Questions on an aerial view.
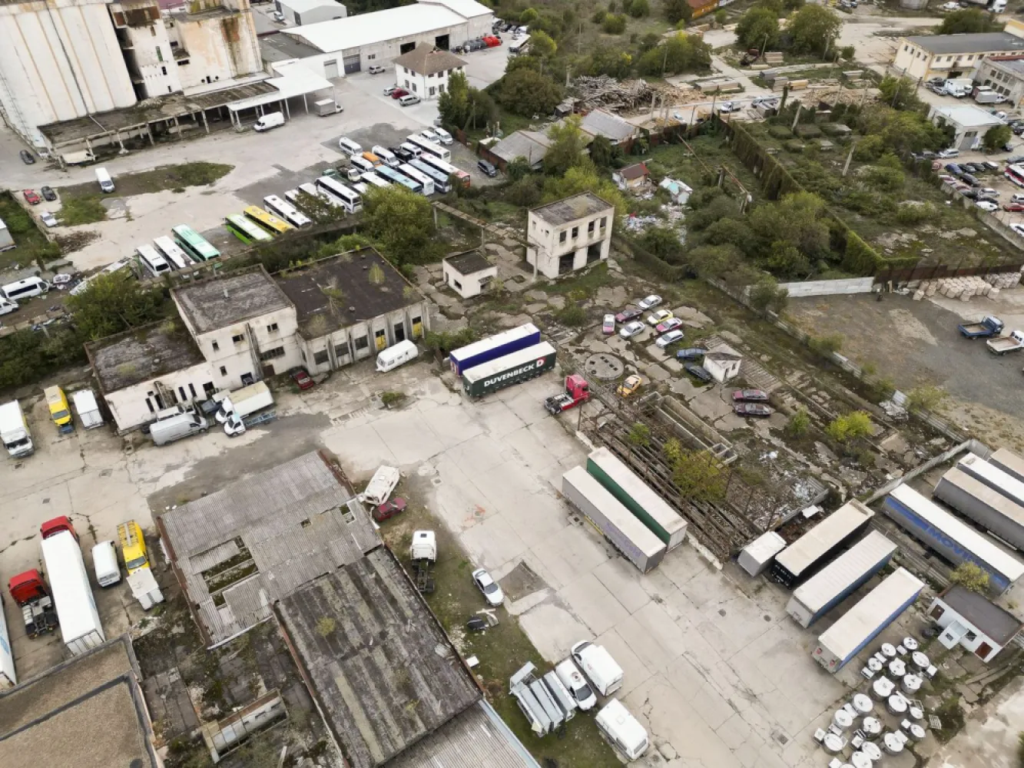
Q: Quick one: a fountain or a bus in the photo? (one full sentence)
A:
There is a bus in the scene.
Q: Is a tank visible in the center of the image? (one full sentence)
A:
No, in the center of the image there is no tank.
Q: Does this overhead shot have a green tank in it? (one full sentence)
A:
No, there appears to be no green tank in this shot.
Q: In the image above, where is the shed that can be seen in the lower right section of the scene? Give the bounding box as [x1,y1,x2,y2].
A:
[924,576,1024,664]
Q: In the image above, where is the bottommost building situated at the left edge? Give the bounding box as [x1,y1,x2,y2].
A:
[0,635,174,768]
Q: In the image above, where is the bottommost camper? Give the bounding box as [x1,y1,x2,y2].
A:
[587,698,662,768]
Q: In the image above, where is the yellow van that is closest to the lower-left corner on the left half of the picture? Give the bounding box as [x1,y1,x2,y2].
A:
[114,524,151,573]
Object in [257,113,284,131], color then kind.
white vehicle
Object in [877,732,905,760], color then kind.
white storage tank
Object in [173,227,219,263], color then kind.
white bus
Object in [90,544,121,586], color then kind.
white van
